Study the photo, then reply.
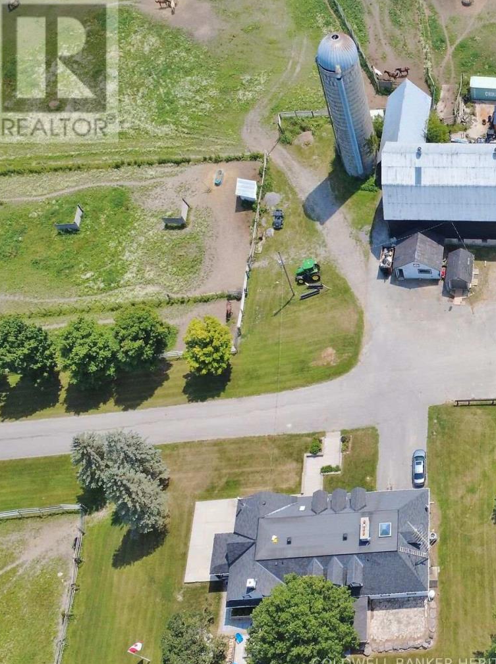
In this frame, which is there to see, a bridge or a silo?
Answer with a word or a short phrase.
silo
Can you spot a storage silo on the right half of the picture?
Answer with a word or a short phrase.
Yes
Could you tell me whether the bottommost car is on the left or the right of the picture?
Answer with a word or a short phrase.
right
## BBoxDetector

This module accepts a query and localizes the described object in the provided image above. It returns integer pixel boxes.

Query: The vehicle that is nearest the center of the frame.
[289,262,323,285]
